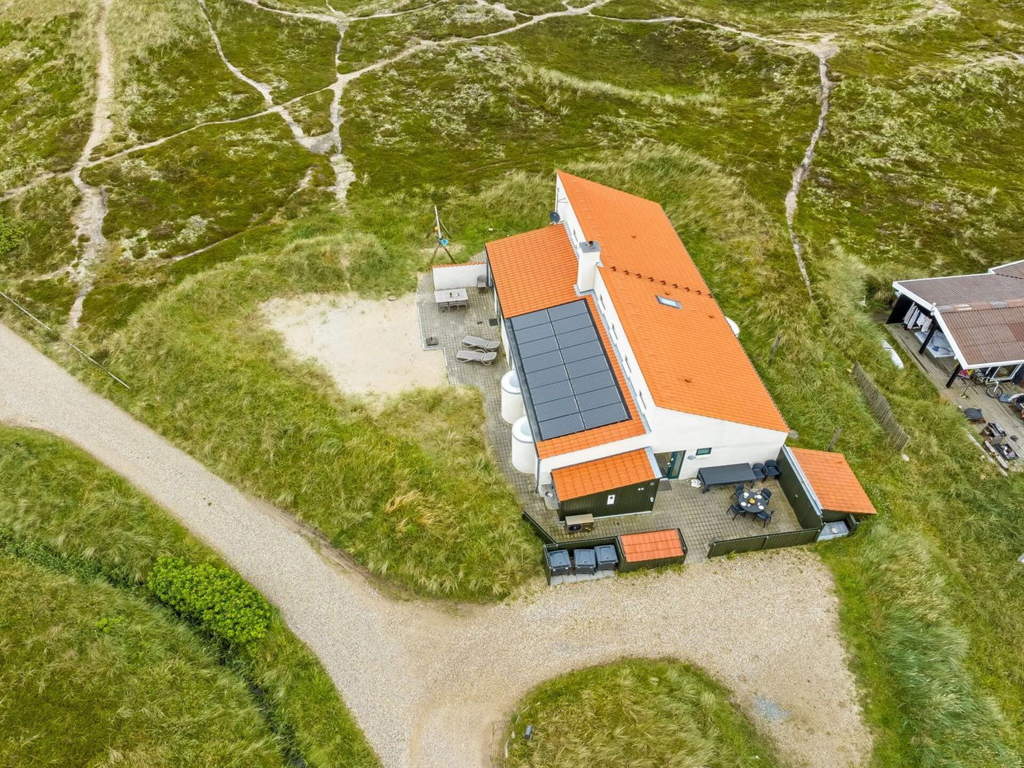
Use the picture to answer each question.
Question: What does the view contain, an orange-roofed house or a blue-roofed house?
orange-roofed house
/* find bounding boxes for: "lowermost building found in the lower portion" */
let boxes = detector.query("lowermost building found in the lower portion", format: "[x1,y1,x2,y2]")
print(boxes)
[614,526,693,573]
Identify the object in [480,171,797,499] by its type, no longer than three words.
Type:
house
